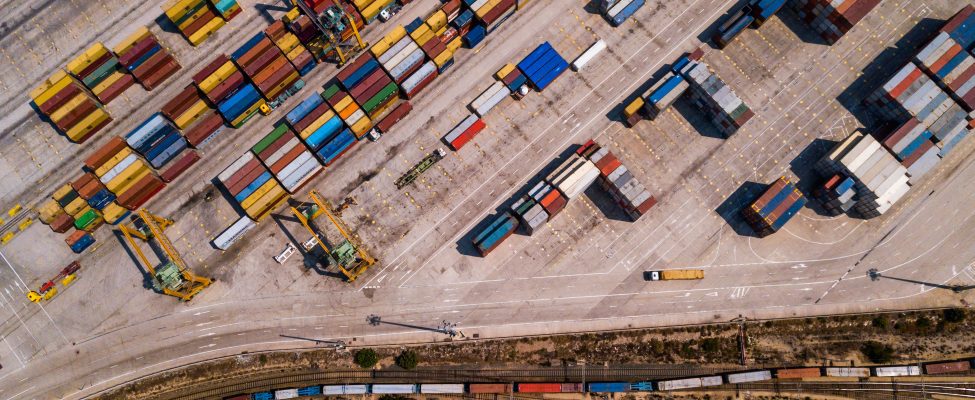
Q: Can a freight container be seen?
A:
Yes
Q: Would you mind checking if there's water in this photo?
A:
No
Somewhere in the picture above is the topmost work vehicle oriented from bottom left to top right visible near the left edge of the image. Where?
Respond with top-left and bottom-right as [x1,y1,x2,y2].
[33,259,81,293]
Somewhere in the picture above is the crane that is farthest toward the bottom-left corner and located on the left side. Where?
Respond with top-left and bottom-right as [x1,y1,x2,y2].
[115,207,219,302]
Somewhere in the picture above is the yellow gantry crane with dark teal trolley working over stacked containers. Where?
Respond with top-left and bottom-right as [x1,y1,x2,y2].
[290,0,368,67]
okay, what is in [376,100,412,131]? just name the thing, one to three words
shipping container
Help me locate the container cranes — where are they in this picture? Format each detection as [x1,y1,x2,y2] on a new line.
[115,207,219,302]
[290,0,368,67]
[290,190,382,286]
